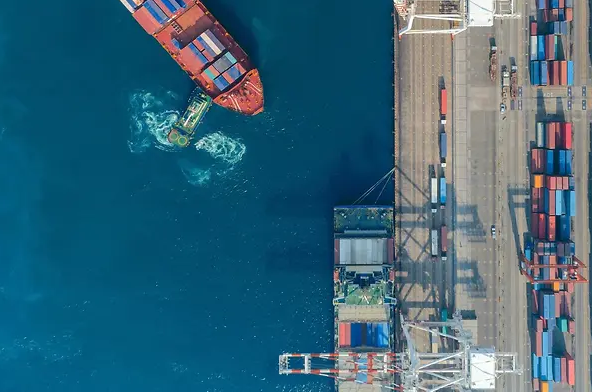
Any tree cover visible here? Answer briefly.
No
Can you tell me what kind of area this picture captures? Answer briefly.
port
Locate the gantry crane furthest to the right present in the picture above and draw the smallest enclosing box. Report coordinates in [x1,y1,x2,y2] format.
[515,248,587,282]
